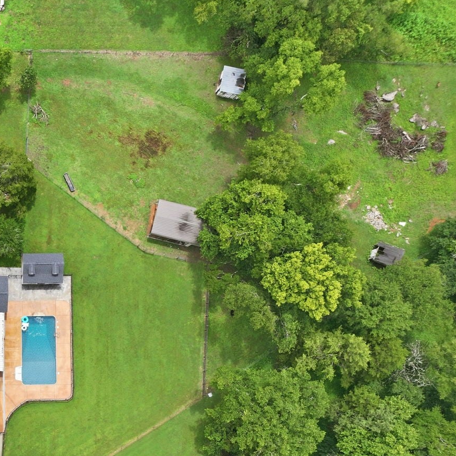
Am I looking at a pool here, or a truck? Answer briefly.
pool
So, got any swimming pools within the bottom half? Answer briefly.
Yes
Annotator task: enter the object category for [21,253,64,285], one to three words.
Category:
shed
